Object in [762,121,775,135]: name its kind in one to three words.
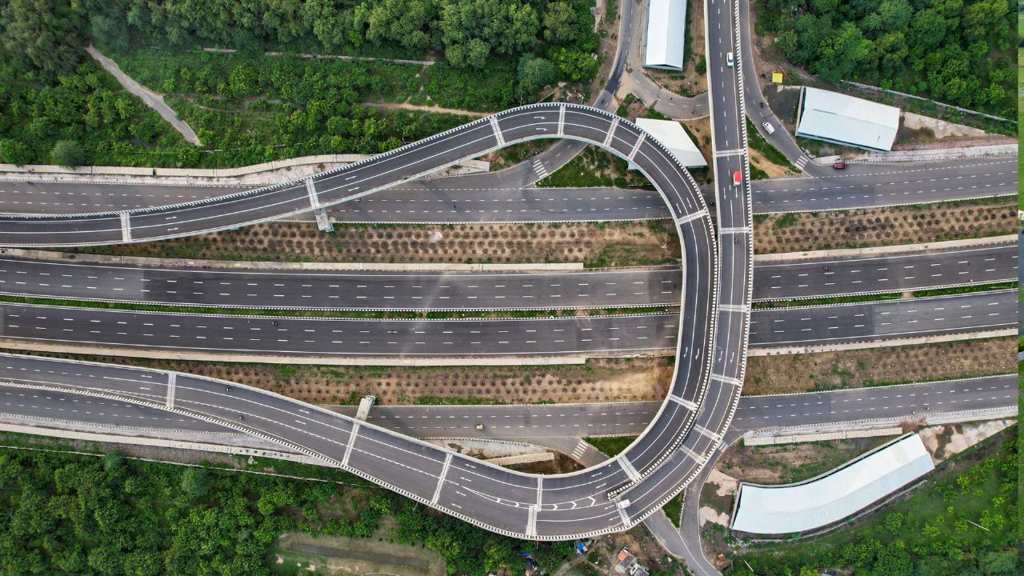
vehicle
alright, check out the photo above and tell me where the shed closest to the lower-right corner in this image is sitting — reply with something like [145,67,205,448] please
[726,430,934,534]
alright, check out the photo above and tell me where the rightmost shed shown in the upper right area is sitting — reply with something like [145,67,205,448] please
[792,87,900,154]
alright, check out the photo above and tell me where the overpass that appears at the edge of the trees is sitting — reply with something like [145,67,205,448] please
[0,0,754,542]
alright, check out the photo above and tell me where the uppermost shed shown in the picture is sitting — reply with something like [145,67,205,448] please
[642,0,686,74]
